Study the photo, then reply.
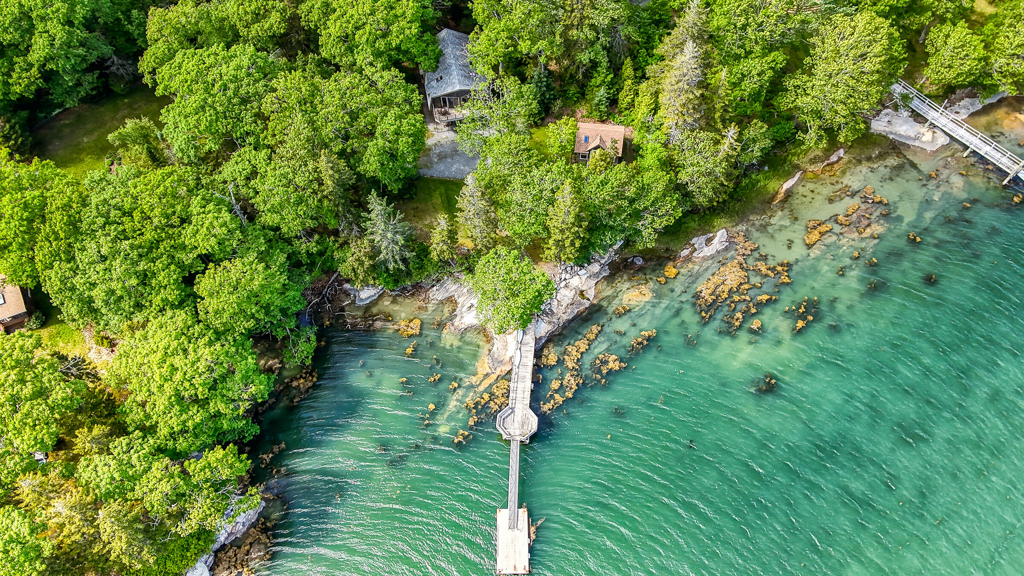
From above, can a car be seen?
No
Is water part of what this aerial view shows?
Yes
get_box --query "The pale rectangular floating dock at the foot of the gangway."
[496,508,531,575]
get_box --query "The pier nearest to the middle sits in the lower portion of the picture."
[496,298,539,447]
